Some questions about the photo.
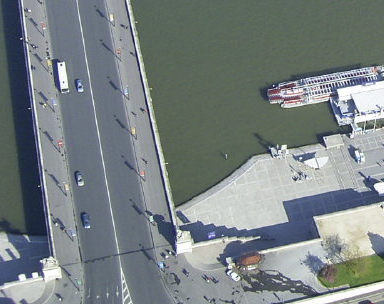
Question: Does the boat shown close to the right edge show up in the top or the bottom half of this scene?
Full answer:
It is in the top half that the boat shown close to the right edge appears.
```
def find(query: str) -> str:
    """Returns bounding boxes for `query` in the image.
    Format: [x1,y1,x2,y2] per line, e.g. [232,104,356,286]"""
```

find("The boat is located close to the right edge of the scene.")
[266,61,384,106]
